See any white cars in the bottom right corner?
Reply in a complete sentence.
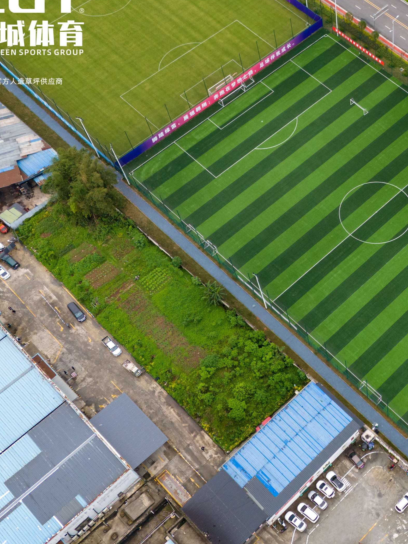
Yes, there is a white car in the bottom right corner.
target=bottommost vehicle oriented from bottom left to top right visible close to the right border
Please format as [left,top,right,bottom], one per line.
[393,492,408,514]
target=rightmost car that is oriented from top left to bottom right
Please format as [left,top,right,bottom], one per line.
[345,448,365,471]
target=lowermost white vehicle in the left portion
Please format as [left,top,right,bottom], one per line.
[123,358,142,377]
